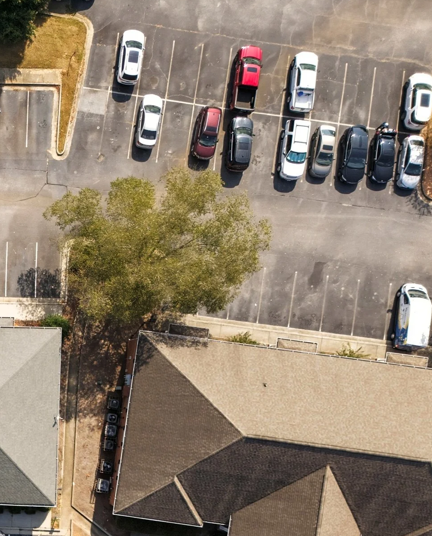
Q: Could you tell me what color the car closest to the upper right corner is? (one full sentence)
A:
The color of the car closest to the upper right corner is white.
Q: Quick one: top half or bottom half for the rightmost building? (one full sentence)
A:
Seen from above, the rightmost building lies in the bottom half of the view.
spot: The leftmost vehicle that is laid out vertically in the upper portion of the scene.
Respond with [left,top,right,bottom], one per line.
[116,28,147,85]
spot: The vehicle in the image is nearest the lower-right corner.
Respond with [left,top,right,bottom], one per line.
[392,282,432,349]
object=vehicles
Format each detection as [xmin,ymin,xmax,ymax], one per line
[223,116,257,173]
[337,123,373,186]
[392,282,432,349]
[288,50,323,114]
[278,117,313,183]
[369,128,402,185]
[395,133,429,191]
[116,28,147,85]
[231,44,266,115]
[402,72,432,130]
[191,104,224,161]
[135,94,164,150]
[307,124,339,180]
